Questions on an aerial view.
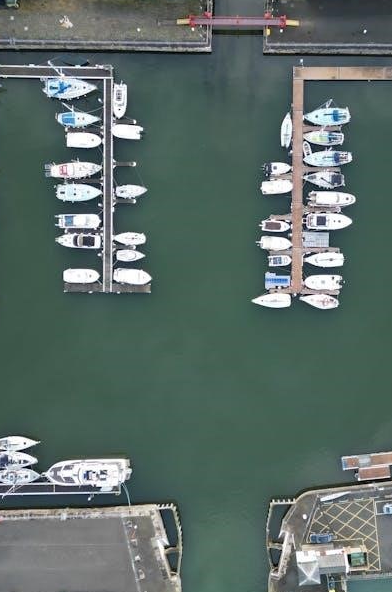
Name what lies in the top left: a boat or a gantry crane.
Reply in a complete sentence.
It is a boat that can be seen in the top left.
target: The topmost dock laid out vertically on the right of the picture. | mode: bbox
[268,80,340,296]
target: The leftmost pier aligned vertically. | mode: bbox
[63,78,151,296]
